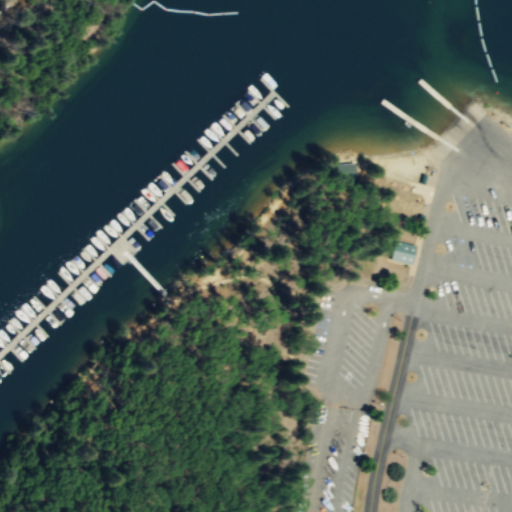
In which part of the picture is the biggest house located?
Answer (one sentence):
The biggest house is in the right part of the image.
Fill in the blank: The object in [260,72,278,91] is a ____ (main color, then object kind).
white boat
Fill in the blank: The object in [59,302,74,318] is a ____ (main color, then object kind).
white boat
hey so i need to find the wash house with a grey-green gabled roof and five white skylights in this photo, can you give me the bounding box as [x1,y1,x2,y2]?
[394,242,417,264]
